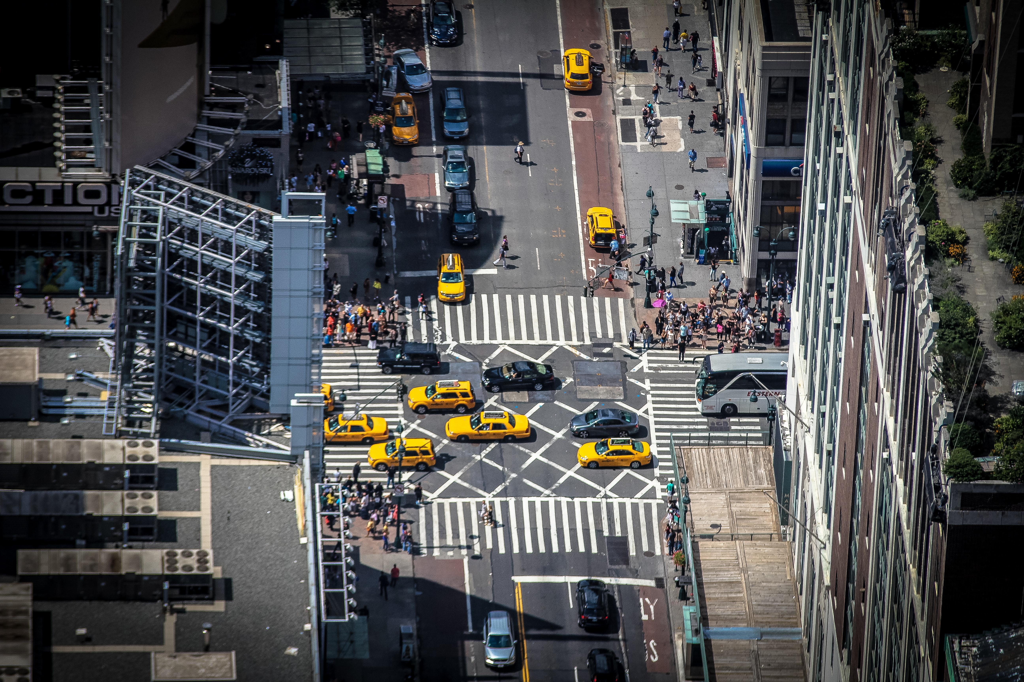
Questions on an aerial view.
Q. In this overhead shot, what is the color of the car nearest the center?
black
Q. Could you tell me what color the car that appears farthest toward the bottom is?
black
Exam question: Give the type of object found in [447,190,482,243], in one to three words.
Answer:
car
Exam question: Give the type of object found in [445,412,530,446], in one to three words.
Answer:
car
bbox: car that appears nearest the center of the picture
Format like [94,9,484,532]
[480,364,556,395]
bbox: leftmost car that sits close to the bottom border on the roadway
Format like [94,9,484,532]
[481,610,520,670]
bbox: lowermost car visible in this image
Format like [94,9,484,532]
[586,653,622,682]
